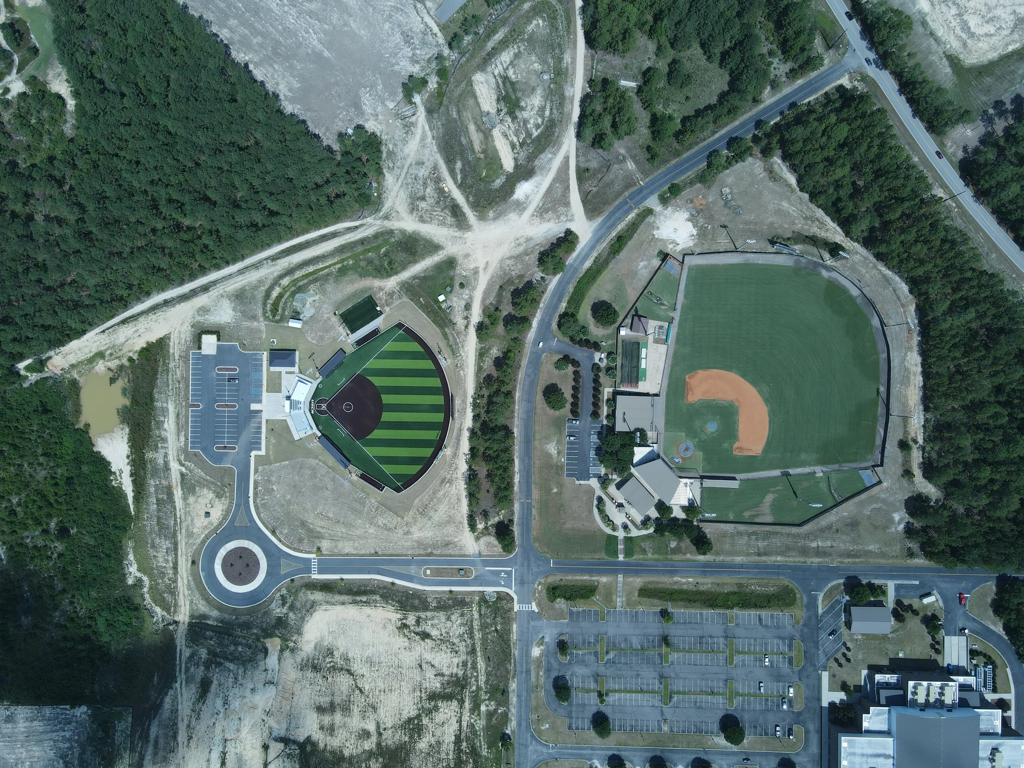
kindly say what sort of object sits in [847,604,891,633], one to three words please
shed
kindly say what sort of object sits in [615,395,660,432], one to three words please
building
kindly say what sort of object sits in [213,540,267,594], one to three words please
roundabout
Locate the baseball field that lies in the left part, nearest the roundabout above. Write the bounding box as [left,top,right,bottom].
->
[309,322,450,493]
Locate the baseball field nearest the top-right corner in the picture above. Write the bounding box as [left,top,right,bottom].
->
[660,253,889,480]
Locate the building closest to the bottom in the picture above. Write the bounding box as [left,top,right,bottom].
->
[833,670,1024,768]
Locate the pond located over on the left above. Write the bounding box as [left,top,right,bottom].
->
[76,369,130,444]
